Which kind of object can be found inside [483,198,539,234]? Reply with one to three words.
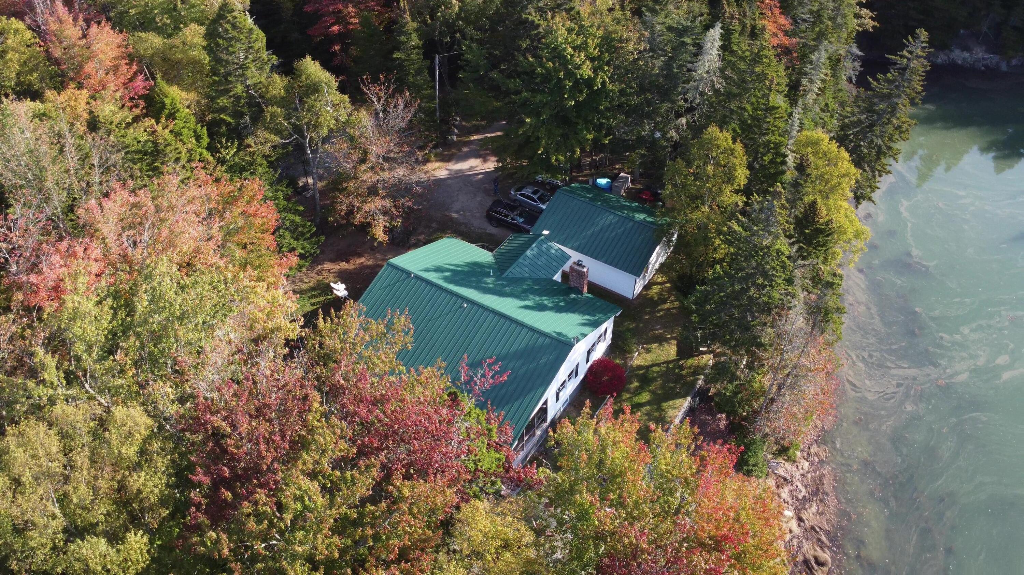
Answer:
car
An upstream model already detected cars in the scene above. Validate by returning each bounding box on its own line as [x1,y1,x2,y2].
[506,181,554,209]
[483,198,539,234]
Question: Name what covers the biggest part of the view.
trees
